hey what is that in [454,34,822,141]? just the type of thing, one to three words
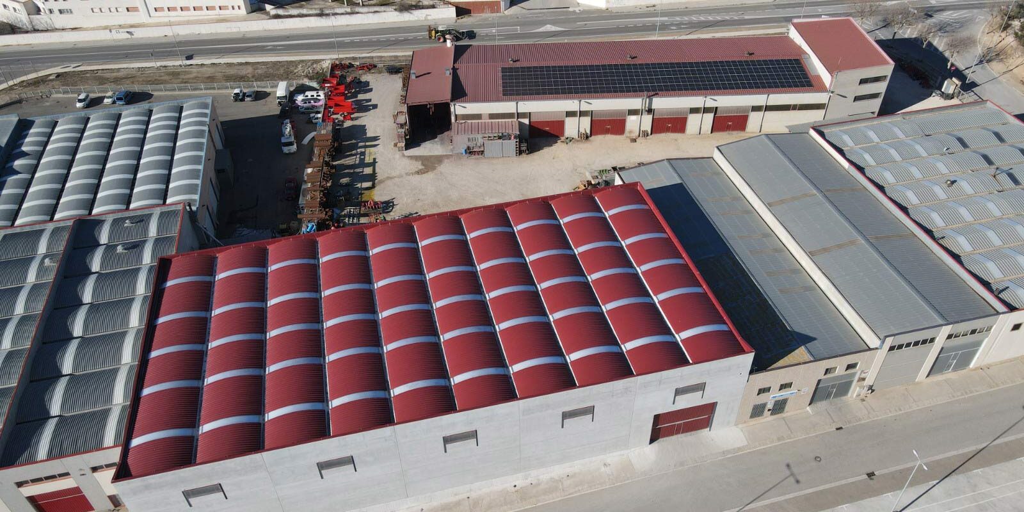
building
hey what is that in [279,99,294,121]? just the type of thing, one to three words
vehicle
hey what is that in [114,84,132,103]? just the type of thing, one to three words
car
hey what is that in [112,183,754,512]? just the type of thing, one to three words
warehouse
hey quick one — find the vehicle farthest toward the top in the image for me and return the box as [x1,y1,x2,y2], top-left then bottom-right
[429,23,470,41]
